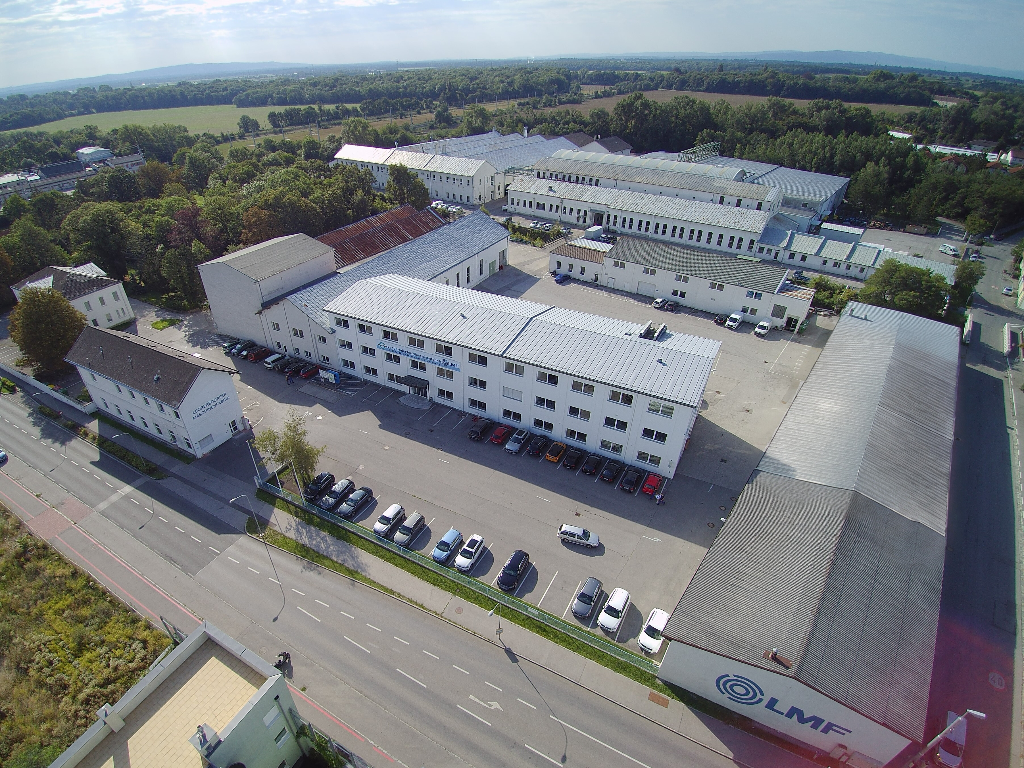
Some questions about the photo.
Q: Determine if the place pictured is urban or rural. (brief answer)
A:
urban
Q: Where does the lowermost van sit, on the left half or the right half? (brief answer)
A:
right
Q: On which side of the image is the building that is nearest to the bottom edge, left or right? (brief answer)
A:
left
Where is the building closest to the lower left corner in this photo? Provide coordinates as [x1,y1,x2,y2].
[31,617,313,768]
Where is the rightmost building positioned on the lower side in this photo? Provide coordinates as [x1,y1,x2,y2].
[656,300,960,763]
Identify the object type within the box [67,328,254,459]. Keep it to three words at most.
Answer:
building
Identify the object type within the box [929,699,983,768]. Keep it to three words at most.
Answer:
van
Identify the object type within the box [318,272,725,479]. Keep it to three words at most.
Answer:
building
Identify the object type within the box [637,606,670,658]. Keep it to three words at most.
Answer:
car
